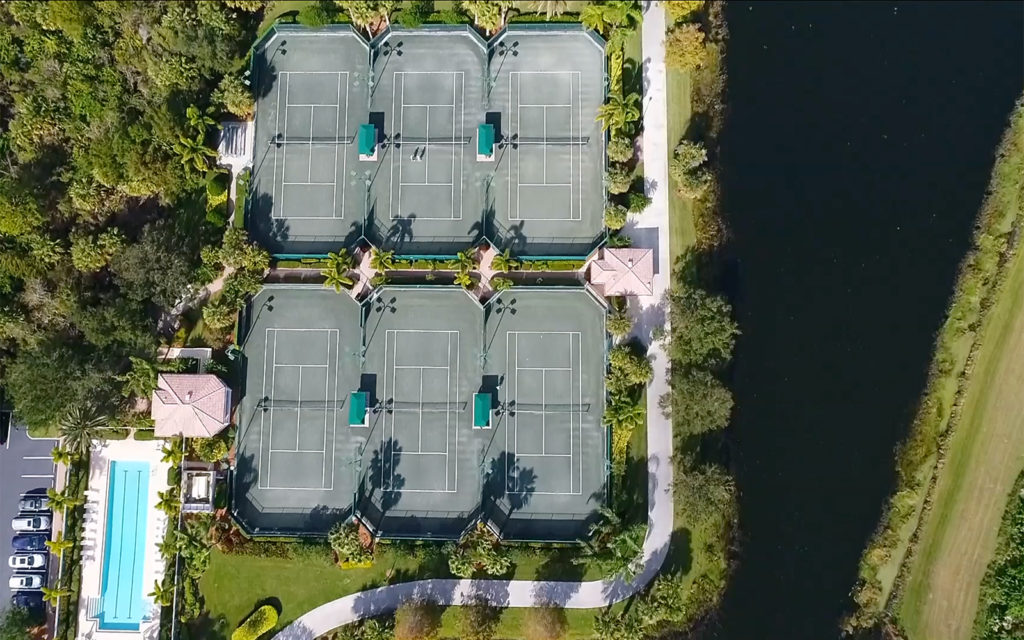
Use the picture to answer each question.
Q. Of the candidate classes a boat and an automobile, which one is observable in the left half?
automobile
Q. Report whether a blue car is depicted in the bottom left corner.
Yes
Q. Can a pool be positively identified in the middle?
No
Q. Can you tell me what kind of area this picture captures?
sports ground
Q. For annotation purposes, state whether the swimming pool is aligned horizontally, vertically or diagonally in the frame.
vertically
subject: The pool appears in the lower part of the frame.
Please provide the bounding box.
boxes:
[82,459,155,634]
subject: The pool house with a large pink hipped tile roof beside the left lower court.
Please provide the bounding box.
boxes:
[151,374,234,437]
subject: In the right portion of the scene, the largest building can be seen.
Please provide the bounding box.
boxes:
[590,248,654,296]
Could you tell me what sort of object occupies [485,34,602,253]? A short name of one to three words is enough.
tennis court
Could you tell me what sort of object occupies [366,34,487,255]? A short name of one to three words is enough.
tennis court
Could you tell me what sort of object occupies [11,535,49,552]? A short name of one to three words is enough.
car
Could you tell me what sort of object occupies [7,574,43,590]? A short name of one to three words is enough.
car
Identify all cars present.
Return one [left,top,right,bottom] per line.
[8,592,45,606]
[12,516,50,533]
[7,574,43,590]
[16,498,51,514]
[8,554,46,570]
[11,535,49,552]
